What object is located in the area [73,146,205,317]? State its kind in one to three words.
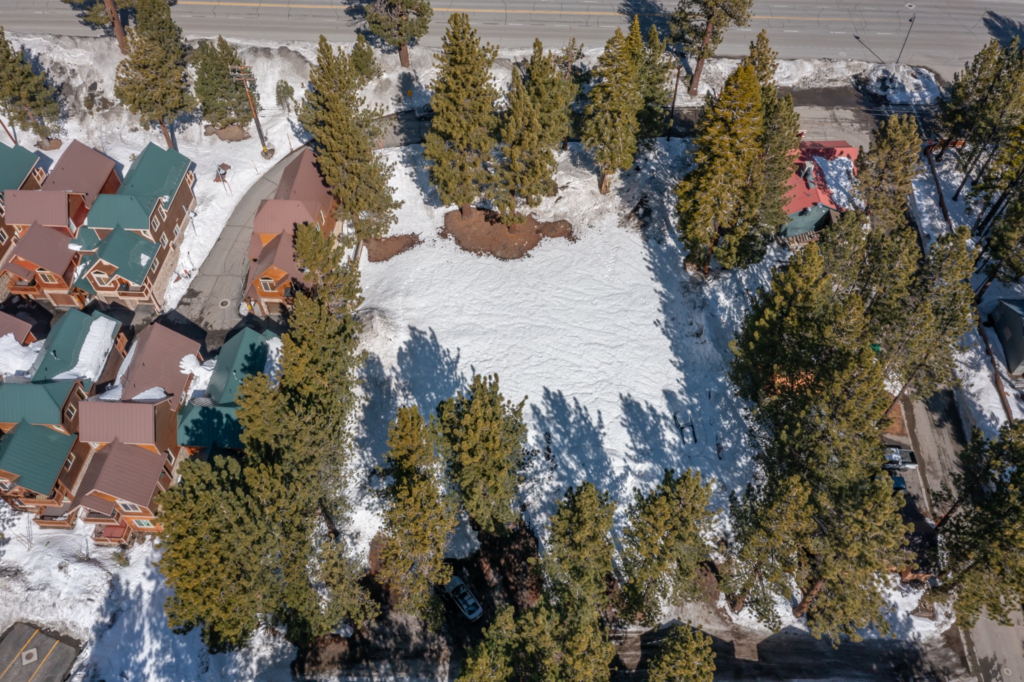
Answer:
house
